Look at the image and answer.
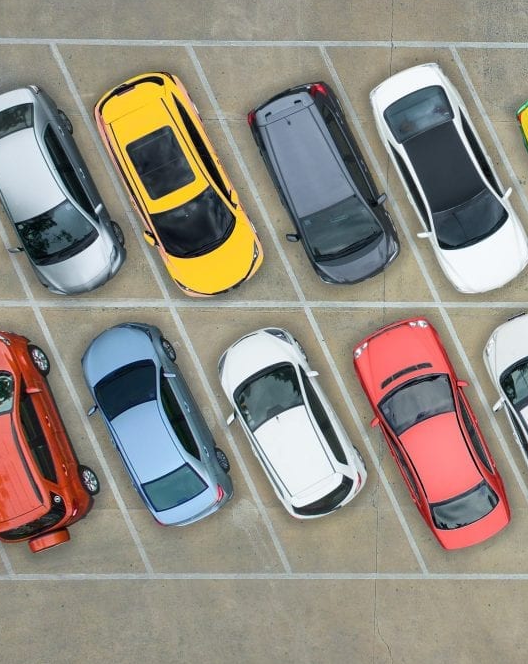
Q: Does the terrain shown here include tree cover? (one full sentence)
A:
No, no tree cover is visible.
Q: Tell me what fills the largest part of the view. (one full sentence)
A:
What you mostly see from above here is paved ground.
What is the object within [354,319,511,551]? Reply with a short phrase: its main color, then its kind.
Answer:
red car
